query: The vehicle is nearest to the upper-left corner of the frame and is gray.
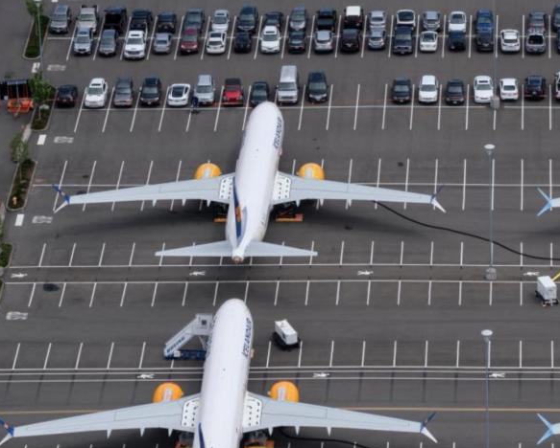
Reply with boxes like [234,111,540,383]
[49,5,73,33]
